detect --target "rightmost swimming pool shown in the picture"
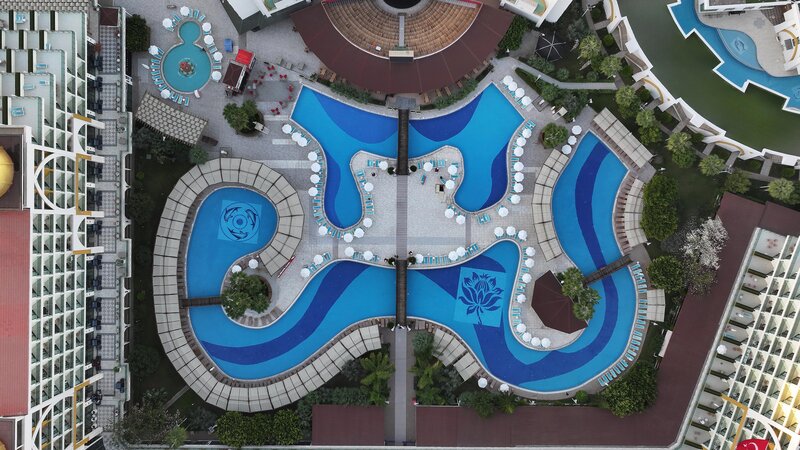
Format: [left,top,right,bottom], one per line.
[667,0,800,115]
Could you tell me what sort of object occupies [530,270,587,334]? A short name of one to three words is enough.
building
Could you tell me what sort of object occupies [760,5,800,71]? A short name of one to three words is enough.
house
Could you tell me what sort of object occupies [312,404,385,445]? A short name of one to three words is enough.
building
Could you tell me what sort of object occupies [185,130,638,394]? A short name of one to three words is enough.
swimming pool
